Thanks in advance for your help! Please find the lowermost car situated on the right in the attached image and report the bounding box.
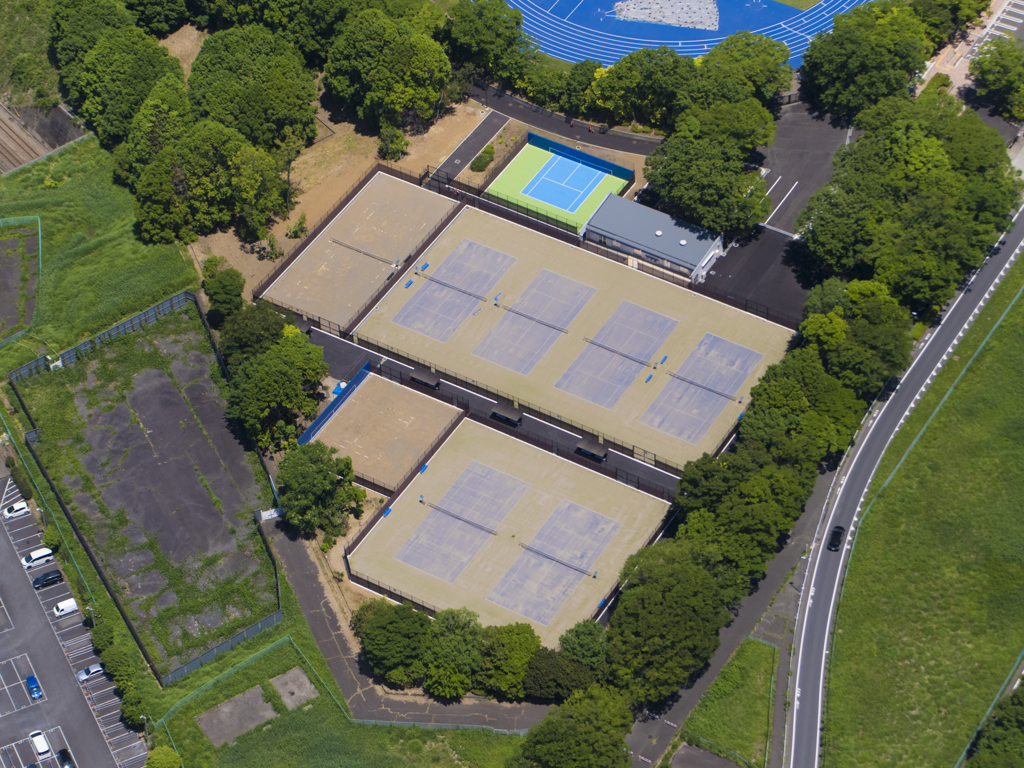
[828,525,844,550]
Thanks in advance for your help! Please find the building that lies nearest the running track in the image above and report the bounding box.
[579,187,724,283]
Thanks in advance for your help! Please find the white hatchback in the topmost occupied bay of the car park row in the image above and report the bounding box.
[4,502,30,519]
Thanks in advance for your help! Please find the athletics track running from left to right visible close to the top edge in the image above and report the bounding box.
[464,0,869,80]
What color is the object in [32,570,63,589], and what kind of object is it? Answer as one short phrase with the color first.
black car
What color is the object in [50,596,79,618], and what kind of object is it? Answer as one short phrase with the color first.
white vehicle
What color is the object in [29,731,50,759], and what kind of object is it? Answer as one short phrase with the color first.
white car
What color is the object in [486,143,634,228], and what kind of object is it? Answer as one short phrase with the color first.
green tennis court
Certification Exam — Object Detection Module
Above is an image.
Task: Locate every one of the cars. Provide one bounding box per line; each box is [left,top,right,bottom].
[25,674,41,698]
[29,731,50,759]
[76,663,107,683]
[32,570,63,589]
[4,502,30,519]
[27,762,40,768]
[21,547,53,569]
[57,749,76,768]
[828,525,844,550]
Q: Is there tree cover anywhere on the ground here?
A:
Yes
